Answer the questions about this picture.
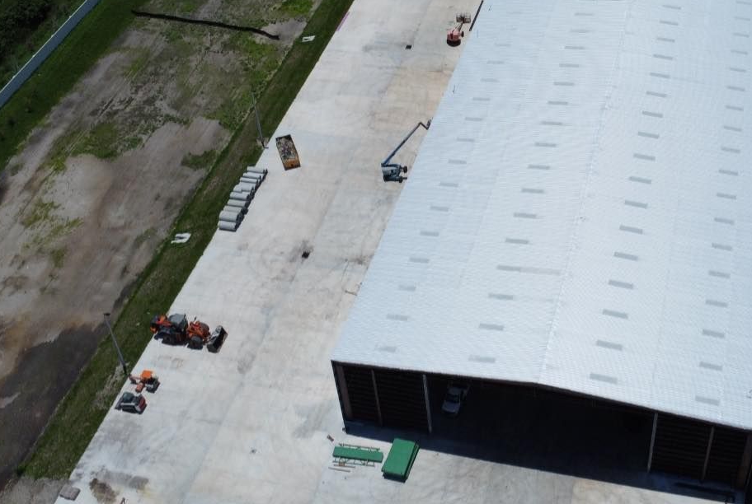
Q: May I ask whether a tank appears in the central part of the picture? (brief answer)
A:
No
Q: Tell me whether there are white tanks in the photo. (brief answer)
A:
No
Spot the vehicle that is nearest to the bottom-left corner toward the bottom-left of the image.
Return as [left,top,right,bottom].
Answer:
[111,388,147,414]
